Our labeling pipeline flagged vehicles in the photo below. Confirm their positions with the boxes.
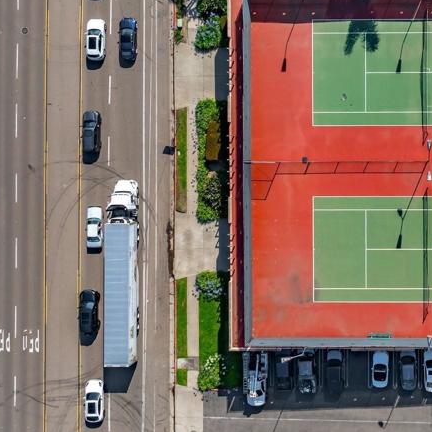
[79,290,102,335]
[372,349,389,388]
[118,19,139,60]
[85,207,105,248]
[245,353,266,404]
[399,350,416,390]
[105,177,143,367]
[423,350,432,392]
[277,349,293,389]
[81,112,104,154]
[84,378,106,423]
[86,20,107,61]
